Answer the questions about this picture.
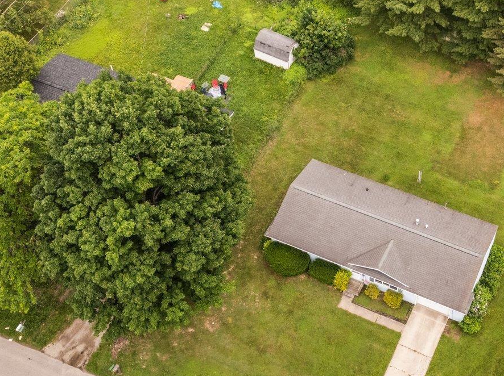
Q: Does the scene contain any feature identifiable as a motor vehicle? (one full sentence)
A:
No, no motor vehicle is visible in the view.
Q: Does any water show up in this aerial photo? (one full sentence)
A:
No, water can't be seen anywhere here.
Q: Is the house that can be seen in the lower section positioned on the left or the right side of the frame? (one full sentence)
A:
You can find the house that can be seen in the lower section on the right side of the picture.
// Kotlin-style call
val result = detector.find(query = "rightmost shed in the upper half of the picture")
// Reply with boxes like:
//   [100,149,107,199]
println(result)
[254,28,298,65]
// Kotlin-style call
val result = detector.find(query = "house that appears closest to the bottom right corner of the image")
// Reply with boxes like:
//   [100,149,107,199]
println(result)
[264,159,501,323]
